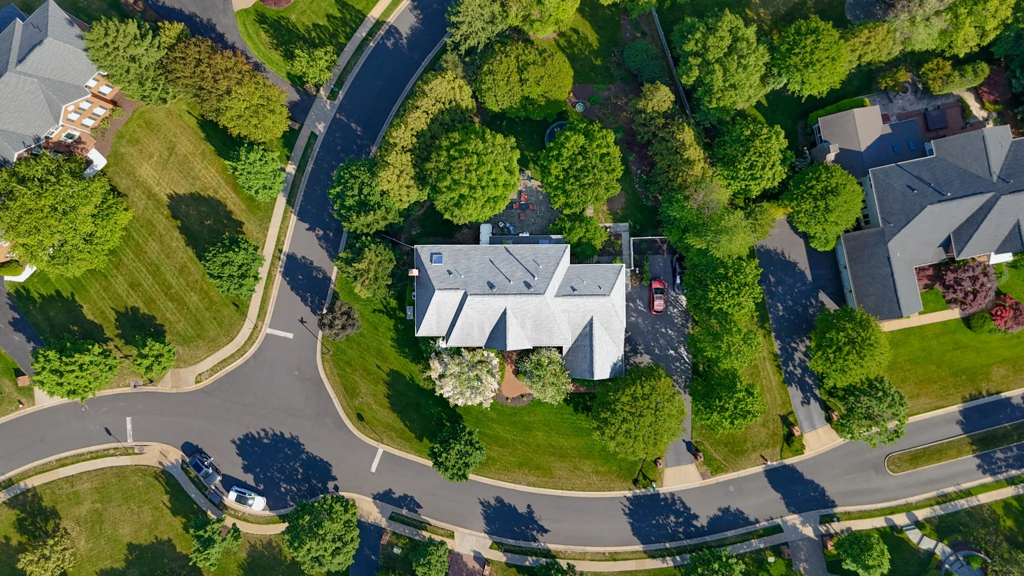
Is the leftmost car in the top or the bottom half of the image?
bottom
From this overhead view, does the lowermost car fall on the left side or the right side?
left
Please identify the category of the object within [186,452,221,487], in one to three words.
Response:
car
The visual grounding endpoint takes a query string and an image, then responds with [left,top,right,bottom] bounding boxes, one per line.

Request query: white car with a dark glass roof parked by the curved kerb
[226,487,266,511]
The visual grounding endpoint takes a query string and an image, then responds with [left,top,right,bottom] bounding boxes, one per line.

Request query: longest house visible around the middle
[408,244,626,380]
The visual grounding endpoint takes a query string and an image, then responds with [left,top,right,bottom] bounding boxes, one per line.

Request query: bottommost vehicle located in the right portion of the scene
[649,279,668,316]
